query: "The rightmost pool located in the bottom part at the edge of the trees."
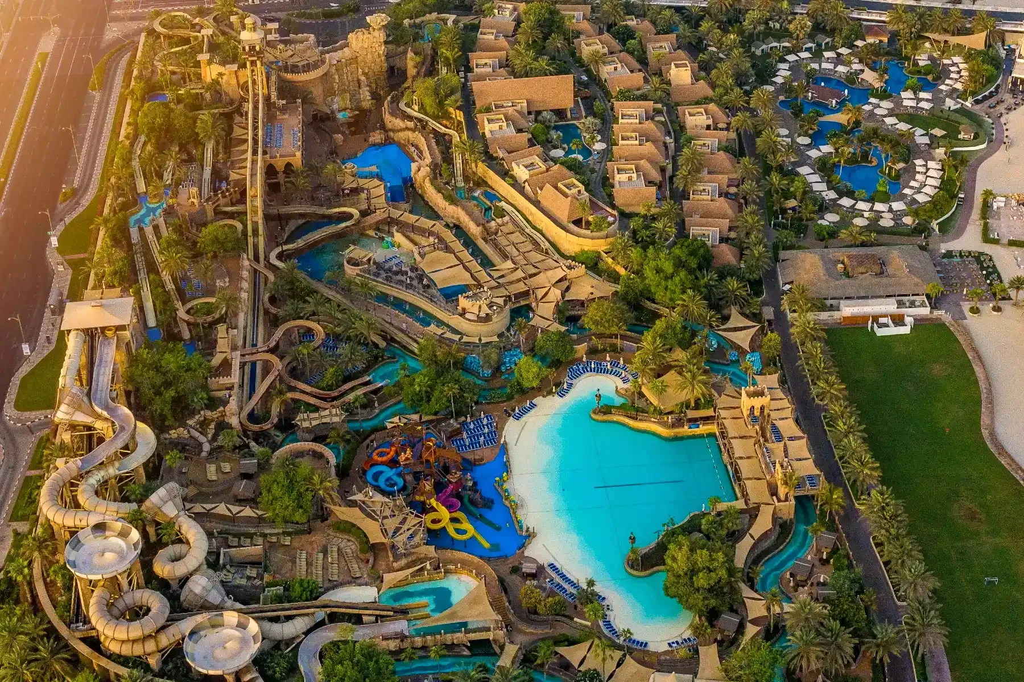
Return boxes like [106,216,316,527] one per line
[505,373,737,653]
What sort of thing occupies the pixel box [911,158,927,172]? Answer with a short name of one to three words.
umbrella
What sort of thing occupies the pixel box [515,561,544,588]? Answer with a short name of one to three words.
shed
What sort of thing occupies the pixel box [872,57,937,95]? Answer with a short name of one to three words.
swimming pool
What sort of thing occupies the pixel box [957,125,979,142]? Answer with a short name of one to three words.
gazebo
